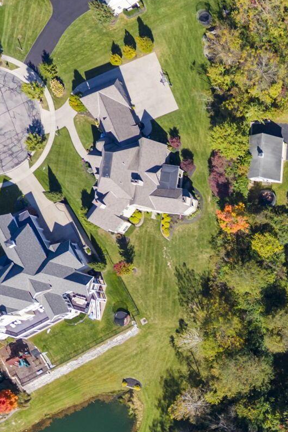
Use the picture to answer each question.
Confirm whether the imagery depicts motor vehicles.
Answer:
No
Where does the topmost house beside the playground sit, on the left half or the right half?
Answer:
left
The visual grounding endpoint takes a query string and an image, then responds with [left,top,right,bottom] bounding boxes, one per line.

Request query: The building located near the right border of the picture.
[249,130,285,182]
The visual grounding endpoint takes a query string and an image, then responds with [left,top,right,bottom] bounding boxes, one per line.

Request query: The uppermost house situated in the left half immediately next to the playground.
[0,211,113,339]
